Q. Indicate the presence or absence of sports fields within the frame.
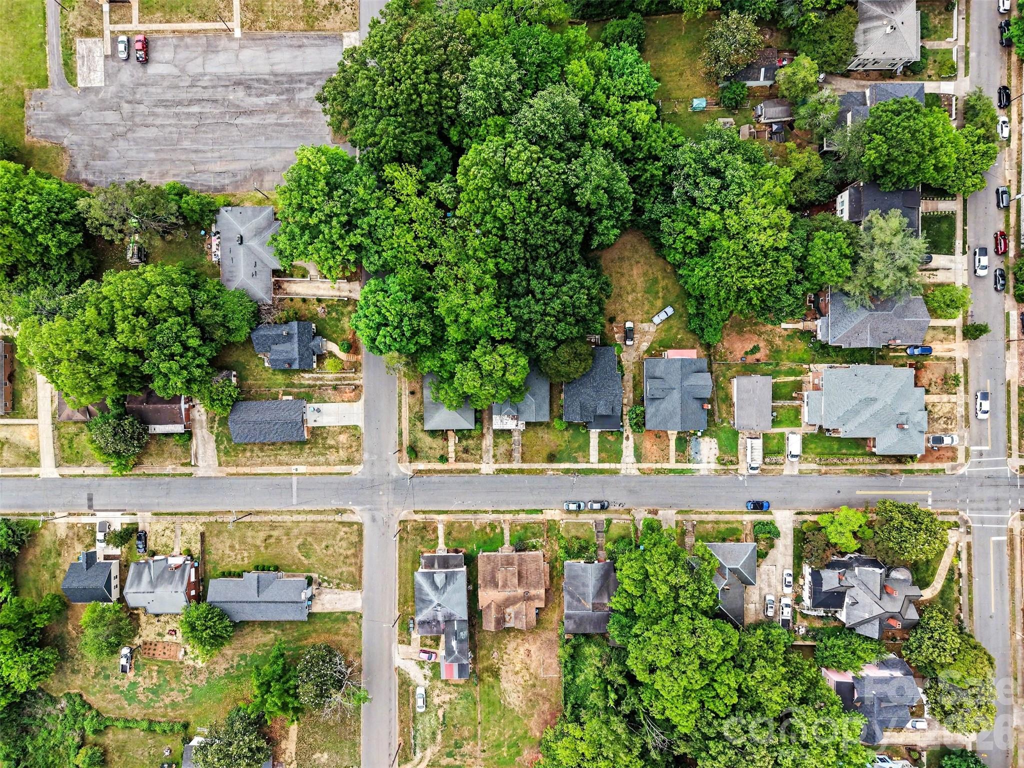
No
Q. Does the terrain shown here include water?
No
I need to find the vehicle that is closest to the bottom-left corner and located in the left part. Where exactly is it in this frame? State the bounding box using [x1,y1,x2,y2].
[121,646,134,673]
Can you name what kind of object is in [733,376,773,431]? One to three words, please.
building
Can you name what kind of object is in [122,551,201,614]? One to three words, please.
house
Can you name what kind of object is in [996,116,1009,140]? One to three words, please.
vehicle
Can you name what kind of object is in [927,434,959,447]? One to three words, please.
vehicle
